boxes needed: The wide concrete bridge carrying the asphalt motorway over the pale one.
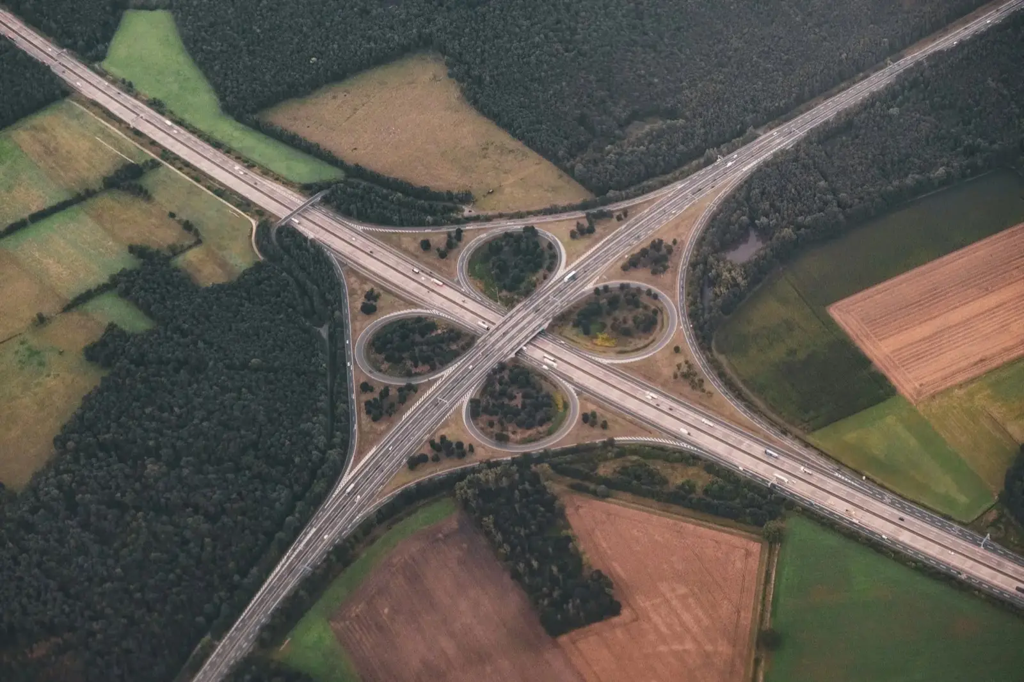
[473,300,556,361]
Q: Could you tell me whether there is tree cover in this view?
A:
Yes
